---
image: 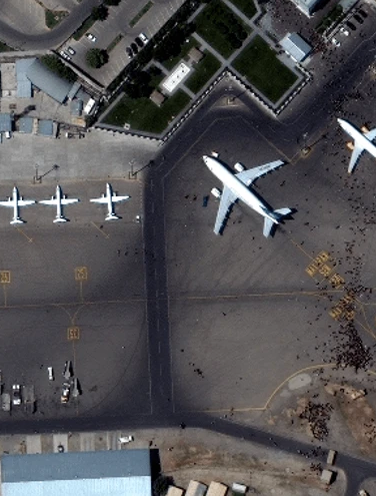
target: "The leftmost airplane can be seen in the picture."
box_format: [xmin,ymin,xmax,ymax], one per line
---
[0,187,35,221]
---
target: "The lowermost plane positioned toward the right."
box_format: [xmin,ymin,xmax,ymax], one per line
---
[203,155,293,237]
